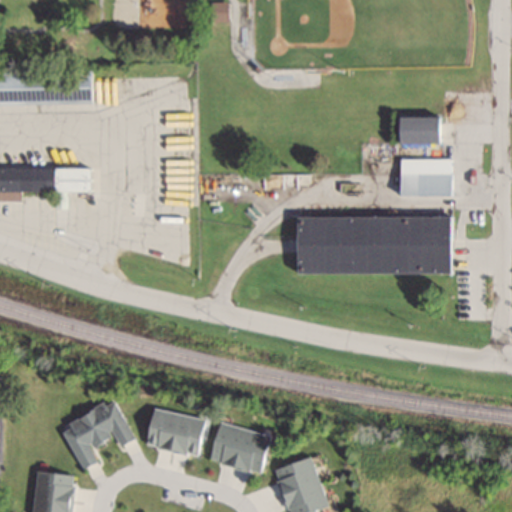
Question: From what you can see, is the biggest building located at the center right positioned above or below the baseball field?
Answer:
below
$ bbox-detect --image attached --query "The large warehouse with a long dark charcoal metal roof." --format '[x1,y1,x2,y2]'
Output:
[296,216,454,275]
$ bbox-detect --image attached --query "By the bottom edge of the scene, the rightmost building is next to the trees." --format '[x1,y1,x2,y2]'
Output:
[276,457,330,512]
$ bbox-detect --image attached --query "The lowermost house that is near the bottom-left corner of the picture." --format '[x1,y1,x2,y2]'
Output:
[32,472,76,512]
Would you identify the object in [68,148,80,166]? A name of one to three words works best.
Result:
vehicle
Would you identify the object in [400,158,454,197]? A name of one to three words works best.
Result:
building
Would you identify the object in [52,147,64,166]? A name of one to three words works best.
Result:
vehicle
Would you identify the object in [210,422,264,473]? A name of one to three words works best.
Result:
house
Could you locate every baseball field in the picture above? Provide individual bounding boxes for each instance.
[240,0,355,74]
